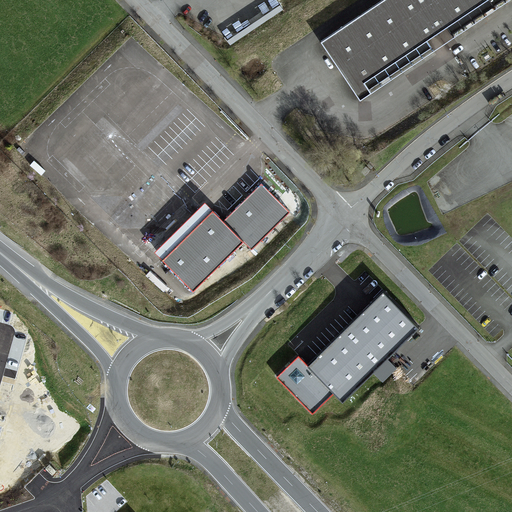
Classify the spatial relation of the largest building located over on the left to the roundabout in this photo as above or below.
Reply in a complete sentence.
The largest building located over on the left is above the roundabout.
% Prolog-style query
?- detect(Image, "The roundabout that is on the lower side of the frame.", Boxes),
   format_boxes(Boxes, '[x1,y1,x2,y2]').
[107,328,232,452]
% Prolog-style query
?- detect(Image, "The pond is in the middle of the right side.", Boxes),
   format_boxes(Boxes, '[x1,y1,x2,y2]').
[382,184,446,246]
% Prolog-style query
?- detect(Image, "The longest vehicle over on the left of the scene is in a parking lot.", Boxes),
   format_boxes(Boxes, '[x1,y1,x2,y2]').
[147,271,168,292]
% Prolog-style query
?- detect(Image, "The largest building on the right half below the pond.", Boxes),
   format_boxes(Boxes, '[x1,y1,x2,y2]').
[308,294,417,403]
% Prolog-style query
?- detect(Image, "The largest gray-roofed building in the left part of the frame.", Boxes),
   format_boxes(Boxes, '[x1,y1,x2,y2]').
[154,204,243,292]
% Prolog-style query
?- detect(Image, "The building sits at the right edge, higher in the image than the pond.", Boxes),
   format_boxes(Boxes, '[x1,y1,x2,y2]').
[322,0,511,101]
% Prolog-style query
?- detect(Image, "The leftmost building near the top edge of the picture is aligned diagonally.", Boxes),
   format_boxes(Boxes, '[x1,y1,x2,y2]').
[224,0,283,46]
